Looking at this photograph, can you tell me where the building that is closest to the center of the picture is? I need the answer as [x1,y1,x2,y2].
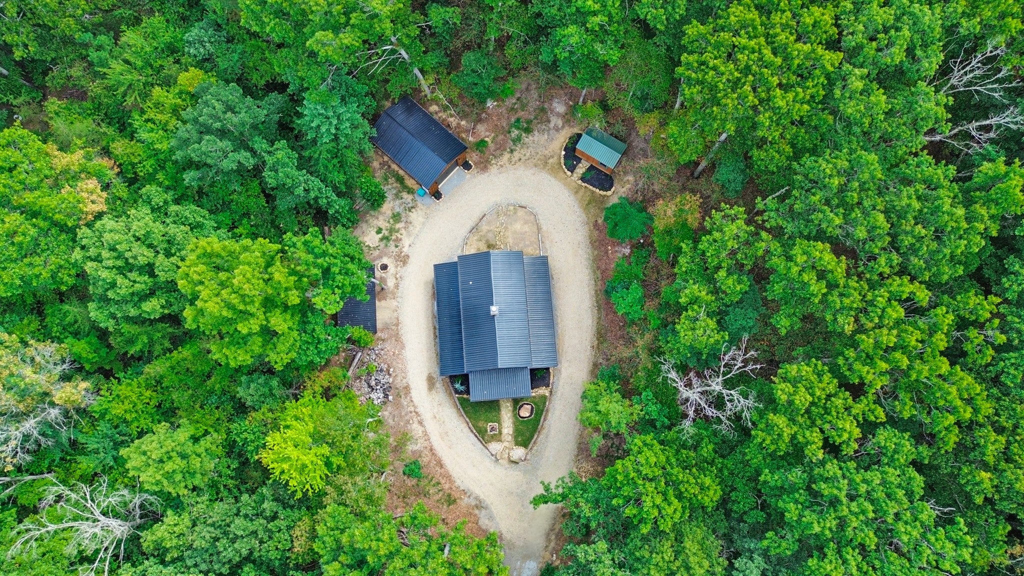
[433,250,557,402]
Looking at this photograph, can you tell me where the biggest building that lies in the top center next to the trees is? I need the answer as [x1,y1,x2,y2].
[369,96,468,195]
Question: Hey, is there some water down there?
No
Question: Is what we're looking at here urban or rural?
rural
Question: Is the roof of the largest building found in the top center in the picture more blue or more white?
blue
